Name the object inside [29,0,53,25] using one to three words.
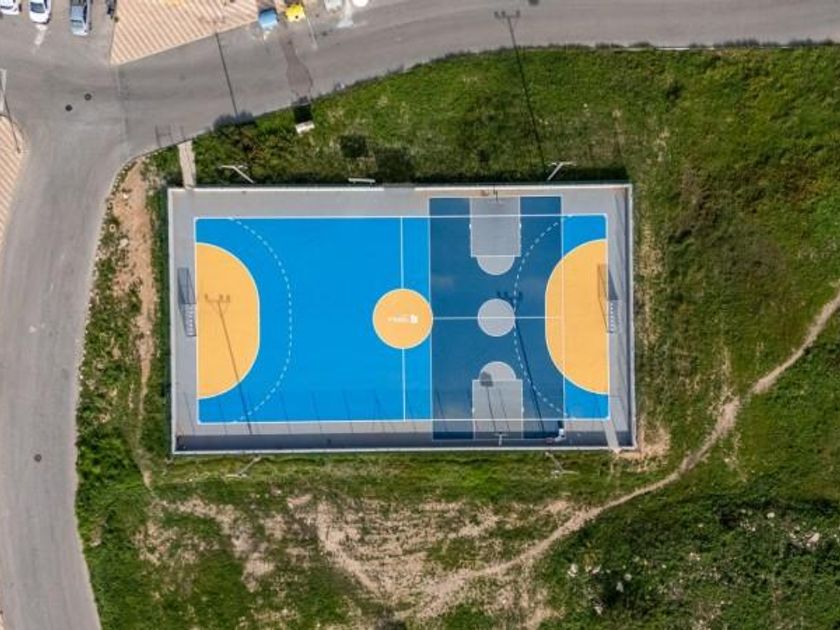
car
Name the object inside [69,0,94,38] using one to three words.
truck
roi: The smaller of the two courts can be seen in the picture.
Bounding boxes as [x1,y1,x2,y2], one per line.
[430,196,564,441]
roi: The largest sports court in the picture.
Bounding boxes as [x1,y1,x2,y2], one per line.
[195,215,610,424]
